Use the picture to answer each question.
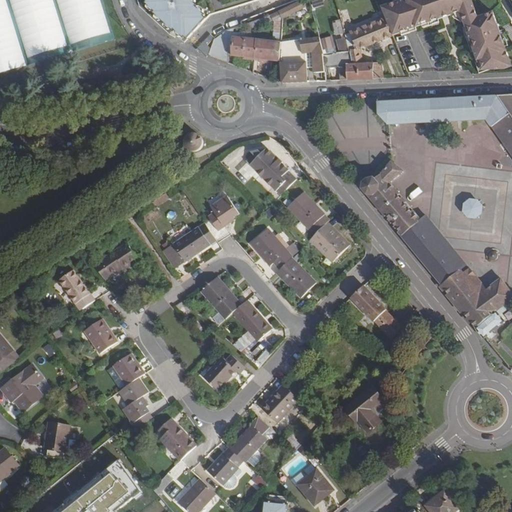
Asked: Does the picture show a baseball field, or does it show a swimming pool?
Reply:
swimming pool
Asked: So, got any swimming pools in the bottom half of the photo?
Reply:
Yes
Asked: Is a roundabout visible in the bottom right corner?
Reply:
Yes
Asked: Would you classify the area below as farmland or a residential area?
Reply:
residential area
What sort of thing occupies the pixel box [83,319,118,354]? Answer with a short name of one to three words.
house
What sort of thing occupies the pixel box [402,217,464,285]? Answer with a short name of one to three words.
building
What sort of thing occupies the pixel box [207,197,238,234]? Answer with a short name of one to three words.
house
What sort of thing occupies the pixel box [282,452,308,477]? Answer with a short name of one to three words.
swimming pool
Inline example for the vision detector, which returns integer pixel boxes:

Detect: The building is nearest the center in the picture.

[250,227,289,265]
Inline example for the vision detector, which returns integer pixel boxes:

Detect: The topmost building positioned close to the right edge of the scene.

[346,0,510,72]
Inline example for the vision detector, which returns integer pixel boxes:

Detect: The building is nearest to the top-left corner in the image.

[0,0,113,76]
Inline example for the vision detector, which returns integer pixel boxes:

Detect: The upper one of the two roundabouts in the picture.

[200,78,253,130]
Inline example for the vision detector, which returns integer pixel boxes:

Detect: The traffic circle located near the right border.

[450,374,512,446]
